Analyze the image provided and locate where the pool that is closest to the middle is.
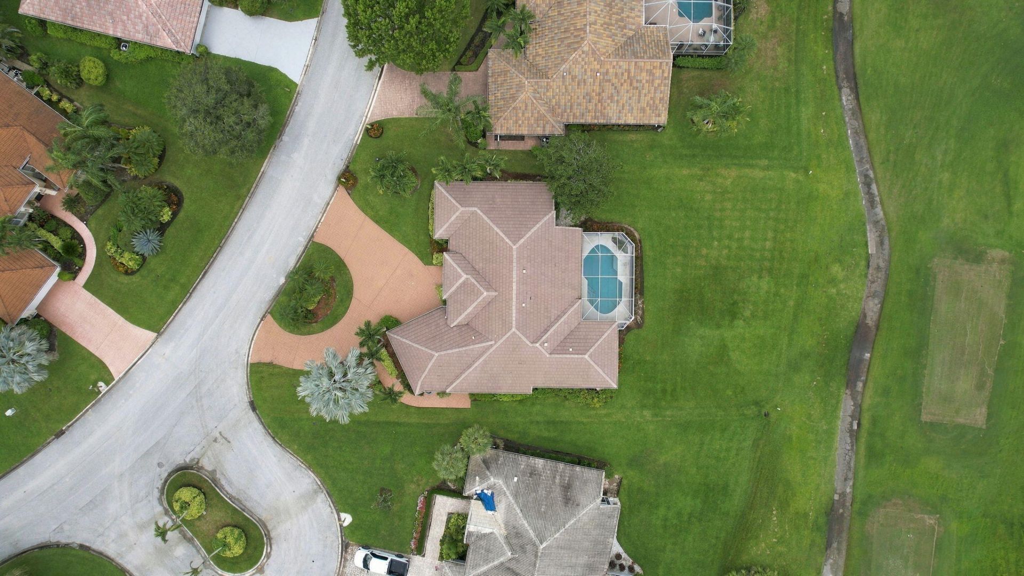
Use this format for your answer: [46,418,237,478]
[582,242,625,317]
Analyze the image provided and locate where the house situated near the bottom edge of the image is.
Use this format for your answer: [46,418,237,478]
[439,447,621,576]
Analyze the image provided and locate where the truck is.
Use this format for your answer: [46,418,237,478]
[352,545,411,576]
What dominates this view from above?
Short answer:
grass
